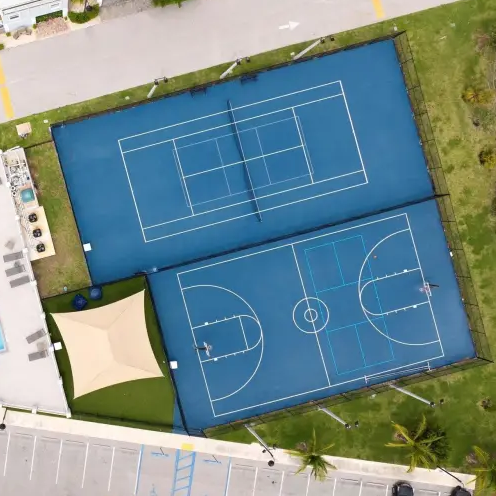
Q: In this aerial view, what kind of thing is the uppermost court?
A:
tennis court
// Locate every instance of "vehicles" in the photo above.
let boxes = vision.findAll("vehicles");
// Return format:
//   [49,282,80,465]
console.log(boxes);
[390,481,411,496]
[446,486,472,496]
